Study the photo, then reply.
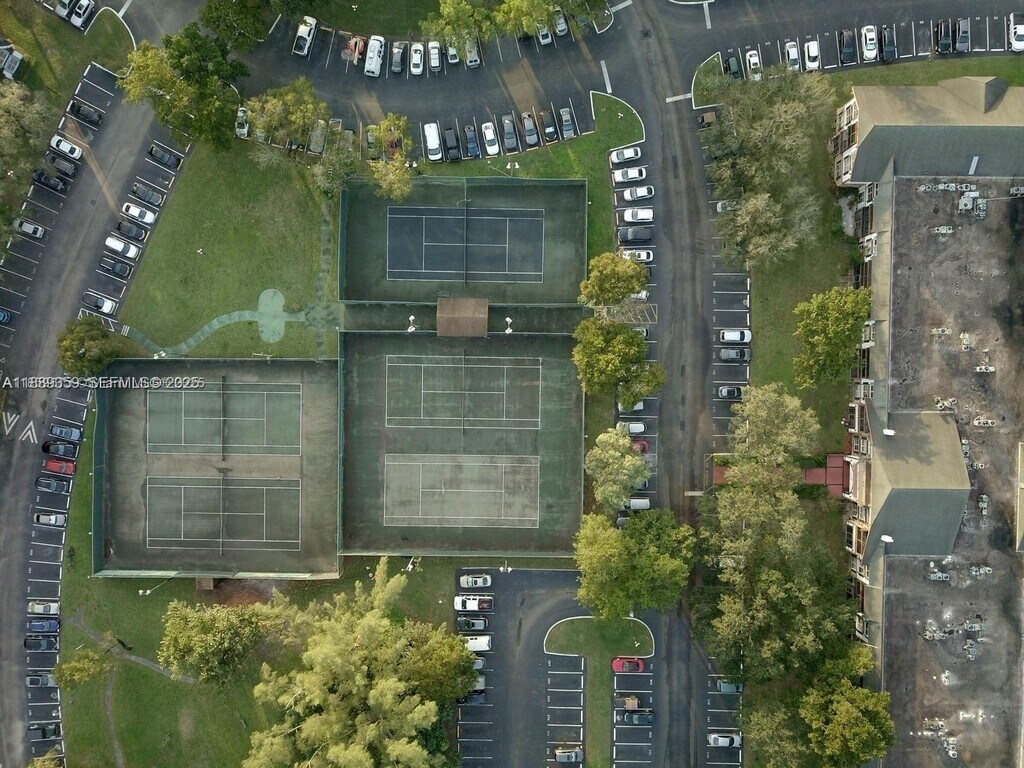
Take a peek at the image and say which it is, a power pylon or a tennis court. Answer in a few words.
tennis court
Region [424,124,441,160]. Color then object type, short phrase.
white vehicle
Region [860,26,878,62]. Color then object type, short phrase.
white car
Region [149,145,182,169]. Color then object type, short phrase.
black car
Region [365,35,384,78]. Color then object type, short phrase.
white vehicle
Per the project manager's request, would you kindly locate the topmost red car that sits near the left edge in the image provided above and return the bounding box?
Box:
[44,458,77,475]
